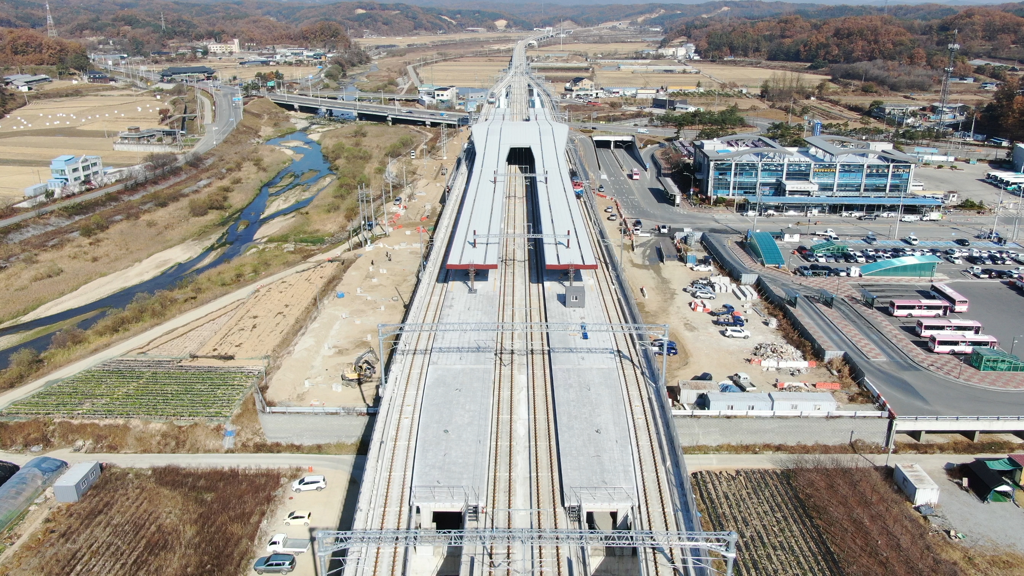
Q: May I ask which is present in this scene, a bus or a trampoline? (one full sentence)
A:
There is a bus in the scene.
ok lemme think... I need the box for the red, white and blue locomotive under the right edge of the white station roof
[570,168,587,198]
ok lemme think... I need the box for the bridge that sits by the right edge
[851,377,1024,464]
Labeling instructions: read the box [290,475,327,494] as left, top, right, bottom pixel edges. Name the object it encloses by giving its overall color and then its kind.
white car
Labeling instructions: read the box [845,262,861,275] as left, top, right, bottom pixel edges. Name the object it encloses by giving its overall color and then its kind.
white vehicle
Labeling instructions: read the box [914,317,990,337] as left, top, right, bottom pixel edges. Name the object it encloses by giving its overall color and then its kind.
white bus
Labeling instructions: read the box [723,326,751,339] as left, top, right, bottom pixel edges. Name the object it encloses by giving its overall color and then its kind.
white vehicle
